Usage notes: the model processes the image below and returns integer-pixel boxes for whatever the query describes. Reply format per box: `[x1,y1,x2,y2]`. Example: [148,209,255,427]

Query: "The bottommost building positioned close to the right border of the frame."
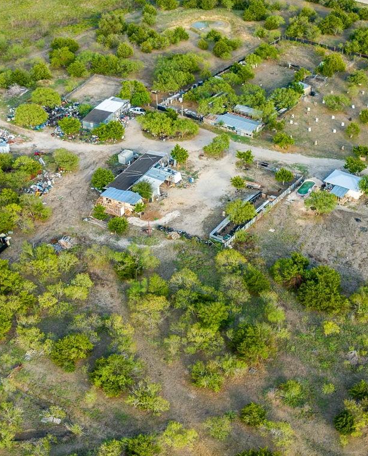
[323,170,364,205]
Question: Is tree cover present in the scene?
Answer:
Yes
